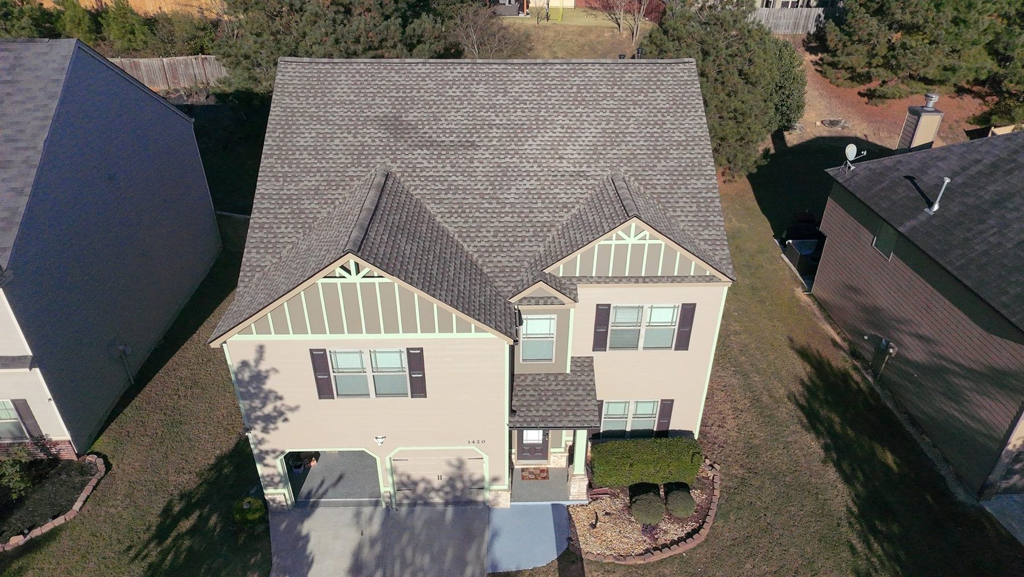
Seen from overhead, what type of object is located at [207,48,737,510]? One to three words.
house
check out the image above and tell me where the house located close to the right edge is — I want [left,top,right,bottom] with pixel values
[813,94,1024,502]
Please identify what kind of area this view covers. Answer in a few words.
residential area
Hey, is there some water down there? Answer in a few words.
No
